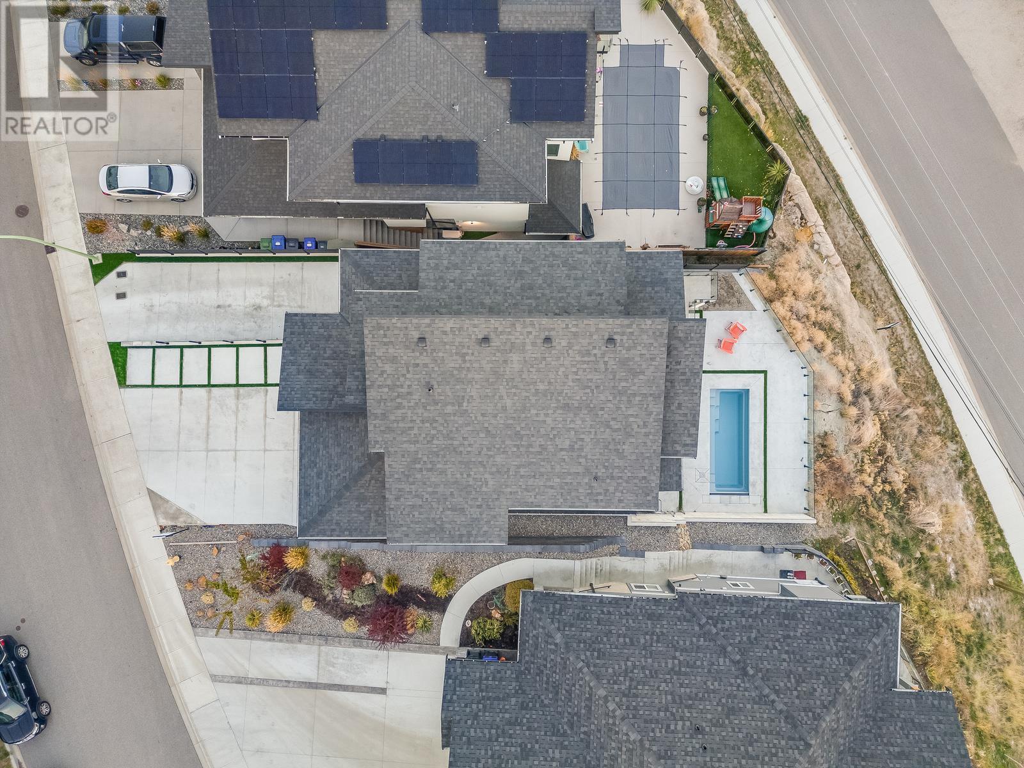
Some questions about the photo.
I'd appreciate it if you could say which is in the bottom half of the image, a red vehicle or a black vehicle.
black vehicle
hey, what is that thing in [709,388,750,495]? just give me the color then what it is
blue swimming pool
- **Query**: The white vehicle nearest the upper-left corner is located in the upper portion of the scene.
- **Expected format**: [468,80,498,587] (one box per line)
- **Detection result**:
[100,153,198,203]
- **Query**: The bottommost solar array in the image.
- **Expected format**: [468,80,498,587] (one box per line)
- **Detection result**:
[350,140,479,185]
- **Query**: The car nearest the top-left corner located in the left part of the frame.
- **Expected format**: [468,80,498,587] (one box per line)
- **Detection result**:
[64,11,166,69]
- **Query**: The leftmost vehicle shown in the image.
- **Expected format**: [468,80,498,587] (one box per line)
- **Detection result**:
[0,633,53,743]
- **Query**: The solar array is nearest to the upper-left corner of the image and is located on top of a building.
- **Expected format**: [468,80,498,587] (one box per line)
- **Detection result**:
[207,0,388,119]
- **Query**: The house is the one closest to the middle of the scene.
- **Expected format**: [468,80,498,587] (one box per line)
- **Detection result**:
[278,239,707,546]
